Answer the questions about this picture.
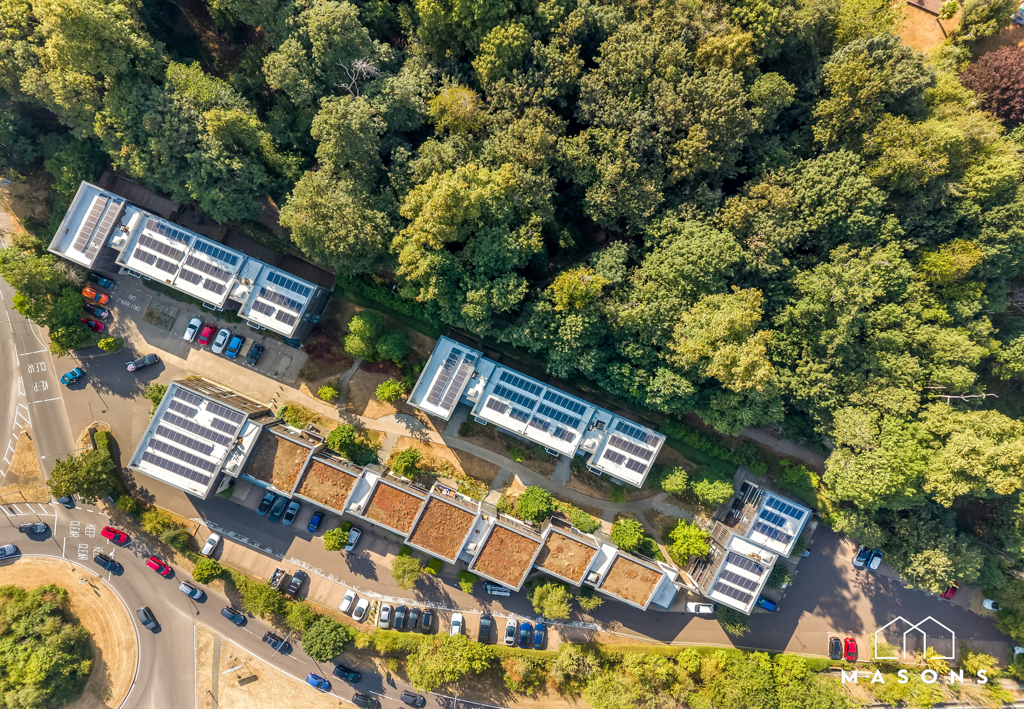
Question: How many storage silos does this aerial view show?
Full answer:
No storage silos are visible.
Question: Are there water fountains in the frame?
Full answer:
No, no water fountain can be seen from above.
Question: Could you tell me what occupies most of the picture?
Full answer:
The largest share of the image is taken up by trees.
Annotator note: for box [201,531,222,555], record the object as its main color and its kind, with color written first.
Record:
white car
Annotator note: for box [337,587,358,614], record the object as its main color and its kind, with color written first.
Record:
white car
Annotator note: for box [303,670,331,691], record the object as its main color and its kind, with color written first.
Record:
blue car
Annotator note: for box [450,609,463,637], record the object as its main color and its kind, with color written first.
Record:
white vehicle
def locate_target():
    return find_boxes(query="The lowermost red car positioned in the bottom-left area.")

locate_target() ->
[143,555,173,577]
